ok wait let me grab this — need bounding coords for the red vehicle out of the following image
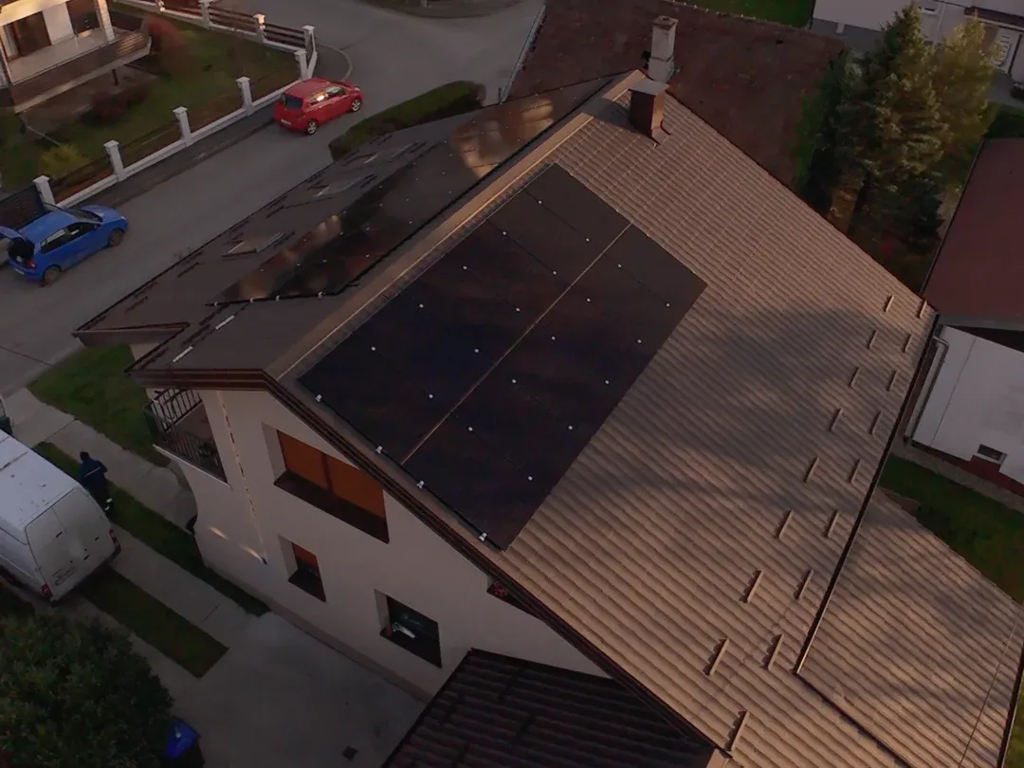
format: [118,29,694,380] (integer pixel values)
[274,79,360,131]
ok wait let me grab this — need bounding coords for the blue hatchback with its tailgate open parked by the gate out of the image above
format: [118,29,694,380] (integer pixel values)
[0,210,121,283]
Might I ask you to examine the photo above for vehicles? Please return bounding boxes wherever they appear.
[0,442,128,604]
[0,210,121,283]
[274,79,360,131]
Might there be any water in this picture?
No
